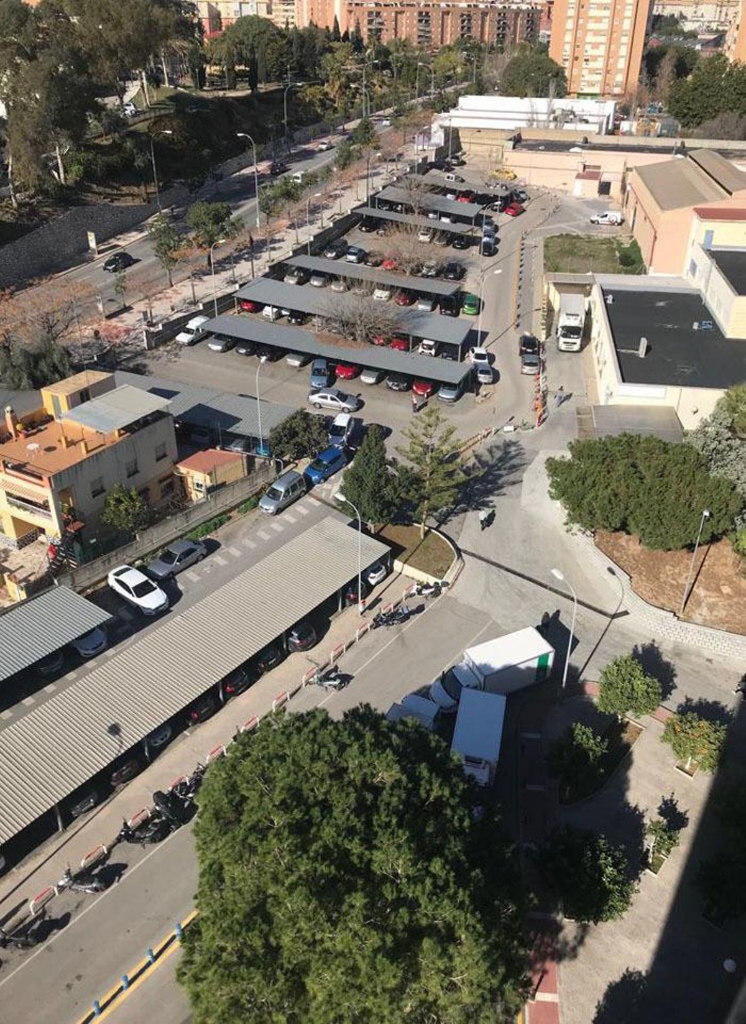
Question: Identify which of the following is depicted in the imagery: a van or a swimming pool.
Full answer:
I can see a van in this picture.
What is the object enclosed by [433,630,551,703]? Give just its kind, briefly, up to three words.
truck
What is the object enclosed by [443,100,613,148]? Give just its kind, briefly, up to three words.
shed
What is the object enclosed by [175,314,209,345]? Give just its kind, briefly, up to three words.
van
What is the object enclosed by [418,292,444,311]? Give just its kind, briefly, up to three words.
car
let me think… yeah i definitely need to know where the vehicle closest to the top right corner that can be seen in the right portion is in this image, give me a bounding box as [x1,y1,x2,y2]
[588,207,626,225]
